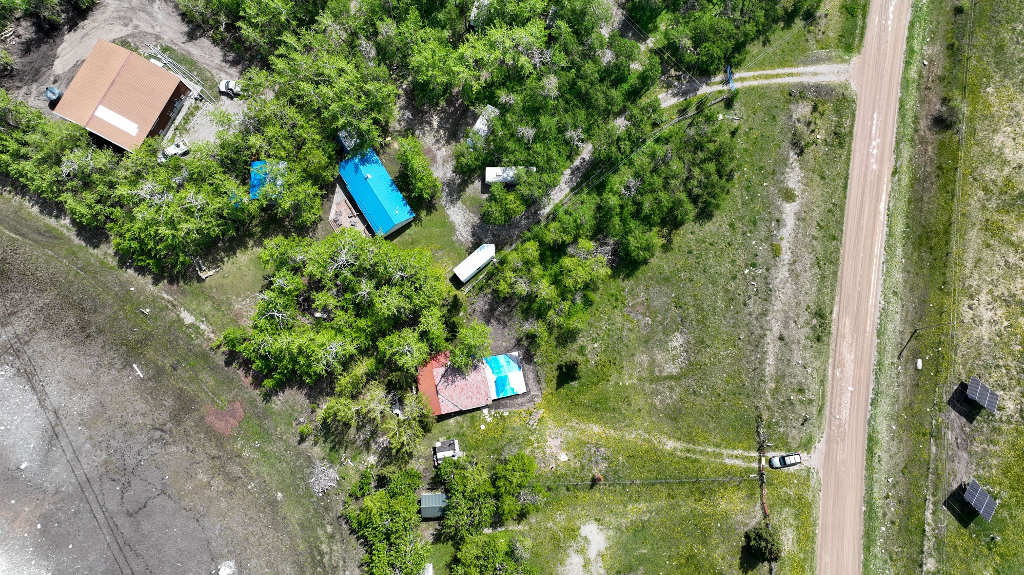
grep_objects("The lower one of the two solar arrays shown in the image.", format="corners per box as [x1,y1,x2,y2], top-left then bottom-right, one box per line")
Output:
[965,479,997,521]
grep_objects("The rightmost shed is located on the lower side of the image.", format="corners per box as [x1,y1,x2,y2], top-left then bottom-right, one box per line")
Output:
[484,352,526,400]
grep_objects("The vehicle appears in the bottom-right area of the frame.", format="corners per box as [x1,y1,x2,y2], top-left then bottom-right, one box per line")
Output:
[769,452,805,471]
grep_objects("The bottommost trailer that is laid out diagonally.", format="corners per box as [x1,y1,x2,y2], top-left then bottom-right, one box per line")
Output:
[453,248,496,285]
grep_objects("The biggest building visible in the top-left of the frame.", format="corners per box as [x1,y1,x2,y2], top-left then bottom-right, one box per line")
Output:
[53,39,189,158]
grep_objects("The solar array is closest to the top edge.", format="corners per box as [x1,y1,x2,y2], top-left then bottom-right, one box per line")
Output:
[968,376,1000,414]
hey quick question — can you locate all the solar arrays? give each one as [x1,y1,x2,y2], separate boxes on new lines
[965,479,997,521]
[968,376,1000,414]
